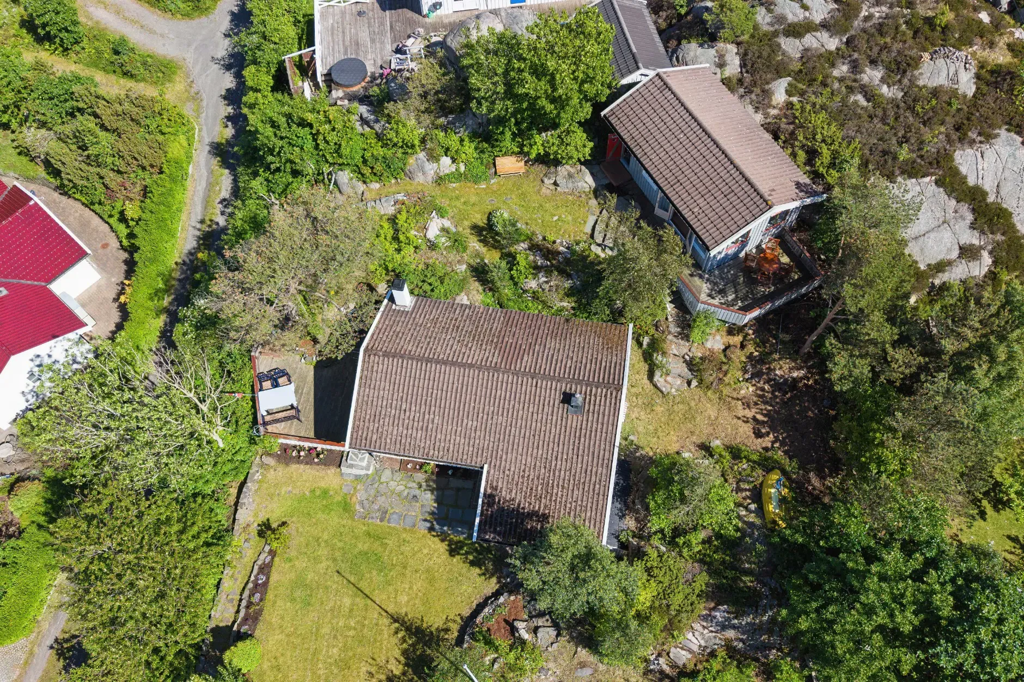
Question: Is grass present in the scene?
Yes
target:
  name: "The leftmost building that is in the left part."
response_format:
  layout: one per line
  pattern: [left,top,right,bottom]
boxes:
[0,181,113,432]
